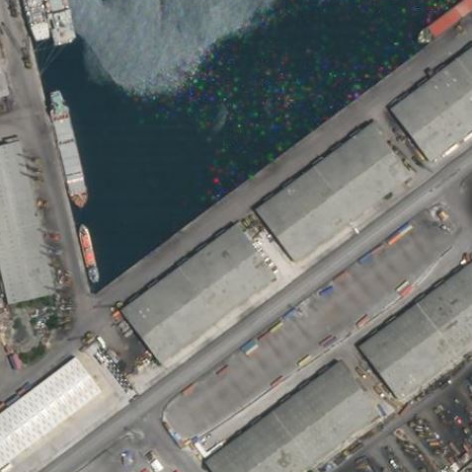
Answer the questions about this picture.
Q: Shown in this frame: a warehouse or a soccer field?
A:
warehouse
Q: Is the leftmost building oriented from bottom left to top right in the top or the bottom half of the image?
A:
bottom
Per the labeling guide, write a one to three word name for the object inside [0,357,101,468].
building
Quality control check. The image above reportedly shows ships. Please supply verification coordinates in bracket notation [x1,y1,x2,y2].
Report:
[418,0,472,46]
[80,225,99,284]
[43,0,76,45]
[24,0,50,43]
[50,91,86,208]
